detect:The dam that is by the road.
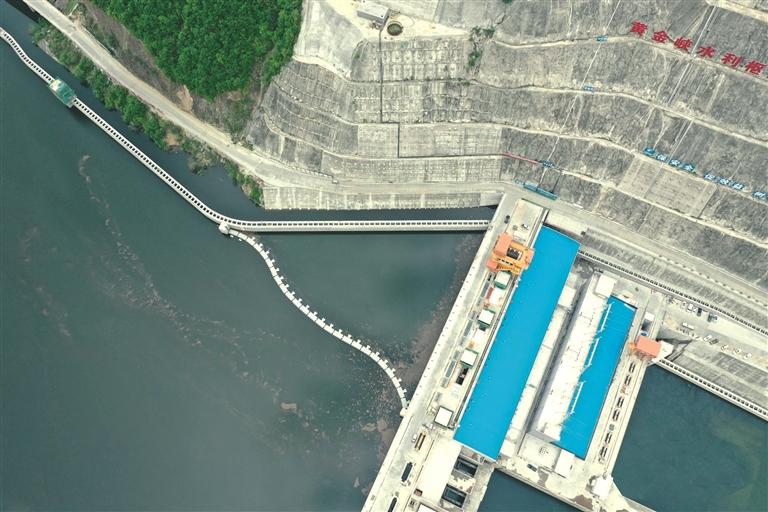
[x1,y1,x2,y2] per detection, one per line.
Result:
[362,193,547,512]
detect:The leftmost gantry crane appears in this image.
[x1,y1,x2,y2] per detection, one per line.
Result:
[485,232,538,277]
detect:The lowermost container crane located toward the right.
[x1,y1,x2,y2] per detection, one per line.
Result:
[628,337,662,366]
